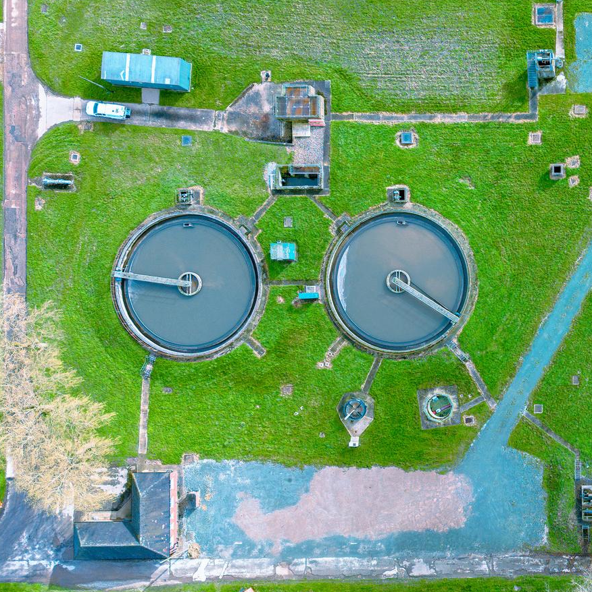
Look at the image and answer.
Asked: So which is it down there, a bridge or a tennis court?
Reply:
bridge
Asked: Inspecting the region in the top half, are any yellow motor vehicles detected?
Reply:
No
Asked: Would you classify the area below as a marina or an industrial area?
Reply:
industrial area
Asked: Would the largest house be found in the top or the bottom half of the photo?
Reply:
bottom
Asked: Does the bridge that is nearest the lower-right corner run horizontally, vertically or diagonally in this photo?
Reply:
diagonally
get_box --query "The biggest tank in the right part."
[325,208,470,353]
